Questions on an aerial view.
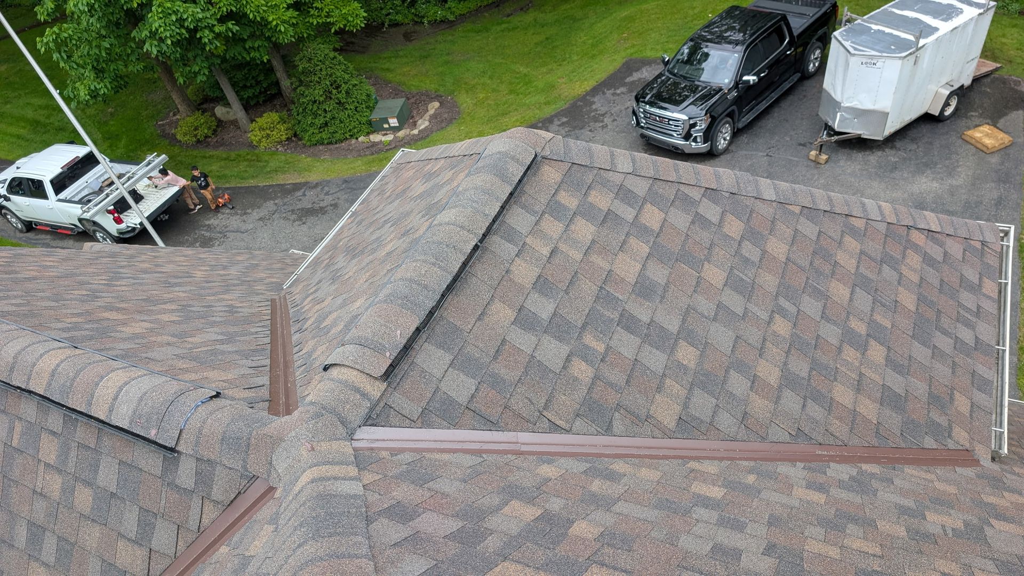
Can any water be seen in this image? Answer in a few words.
No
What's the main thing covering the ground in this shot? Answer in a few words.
buildings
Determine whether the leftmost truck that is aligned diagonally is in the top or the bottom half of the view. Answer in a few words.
top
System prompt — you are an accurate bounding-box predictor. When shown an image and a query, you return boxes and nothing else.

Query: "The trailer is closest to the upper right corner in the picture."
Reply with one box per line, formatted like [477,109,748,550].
[811,0,1014,157]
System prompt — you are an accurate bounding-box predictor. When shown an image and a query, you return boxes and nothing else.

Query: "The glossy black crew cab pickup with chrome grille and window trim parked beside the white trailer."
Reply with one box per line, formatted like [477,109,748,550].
[635,0,838,151]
